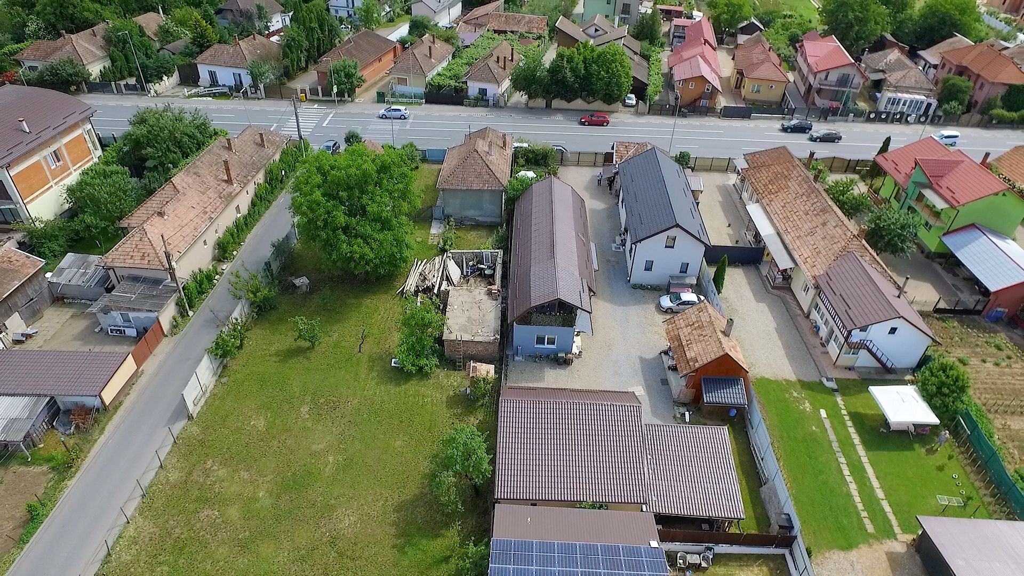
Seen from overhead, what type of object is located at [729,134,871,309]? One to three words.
house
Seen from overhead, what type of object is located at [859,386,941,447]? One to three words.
gazebo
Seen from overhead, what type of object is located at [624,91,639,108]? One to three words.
car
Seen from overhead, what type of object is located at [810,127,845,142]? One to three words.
car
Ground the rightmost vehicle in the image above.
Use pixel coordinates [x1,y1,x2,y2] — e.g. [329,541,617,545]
[929,128,969,145]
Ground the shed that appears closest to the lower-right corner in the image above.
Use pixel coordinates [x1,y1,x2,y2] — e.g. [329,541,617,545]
[911,516,1024,576]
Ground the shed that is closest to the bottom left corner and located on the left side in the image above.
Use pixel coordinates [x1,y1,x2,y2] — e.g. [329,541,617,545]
[0,396,57,455]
